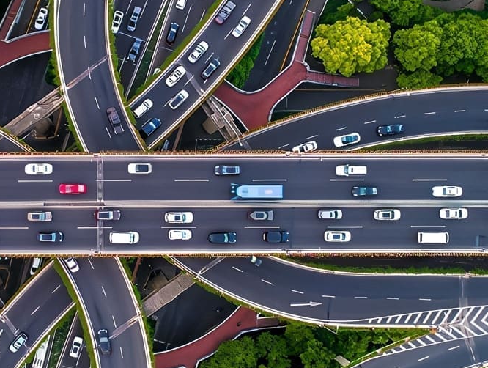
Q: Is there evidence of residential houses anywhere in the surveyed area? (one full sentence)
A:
No, the scene contains no residential house.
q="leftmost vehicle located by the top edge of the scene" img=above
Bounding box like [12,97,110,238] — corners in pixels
[34,7,47,31]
